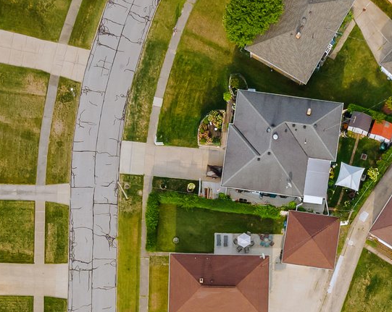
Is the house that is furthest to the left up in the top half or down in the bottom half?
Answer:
bottom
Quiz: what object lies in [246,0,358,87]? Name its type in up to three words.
house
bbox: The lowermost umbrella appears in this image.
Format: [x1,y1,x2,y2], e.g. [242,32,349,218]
[237,233,251,247]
